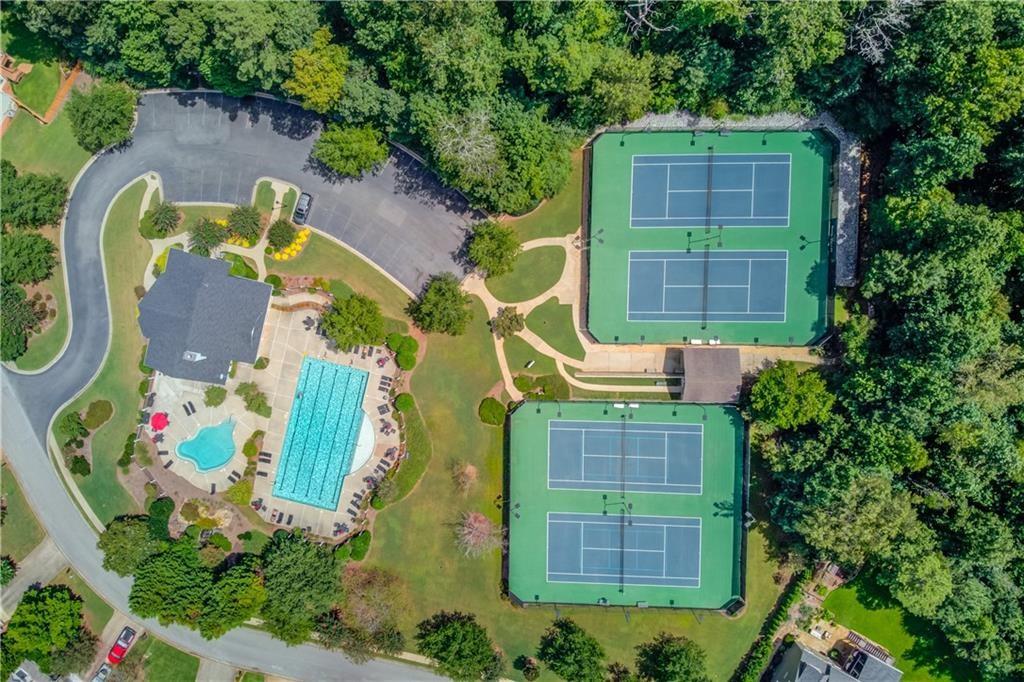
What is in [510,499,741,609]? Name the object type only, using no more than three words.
tennis court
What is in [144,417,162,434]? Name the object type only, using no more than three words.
umbrella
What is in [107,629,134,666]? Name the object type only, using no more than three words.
truck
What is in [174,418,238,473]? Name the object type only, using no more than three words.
swimming pool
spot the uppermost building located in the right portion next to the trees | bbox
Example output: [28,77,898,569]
[676,348,742,403]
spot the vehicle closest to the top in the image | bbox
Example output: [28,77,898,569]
[291,191,311,224]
